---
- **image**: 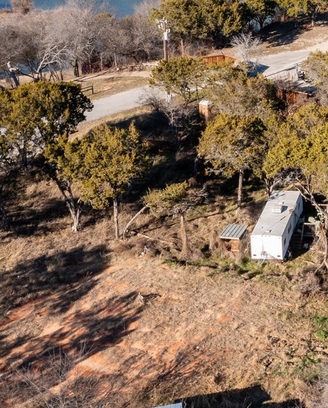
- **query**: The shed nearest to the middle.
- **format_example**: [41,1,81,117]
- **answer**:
[218,222,253,259]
